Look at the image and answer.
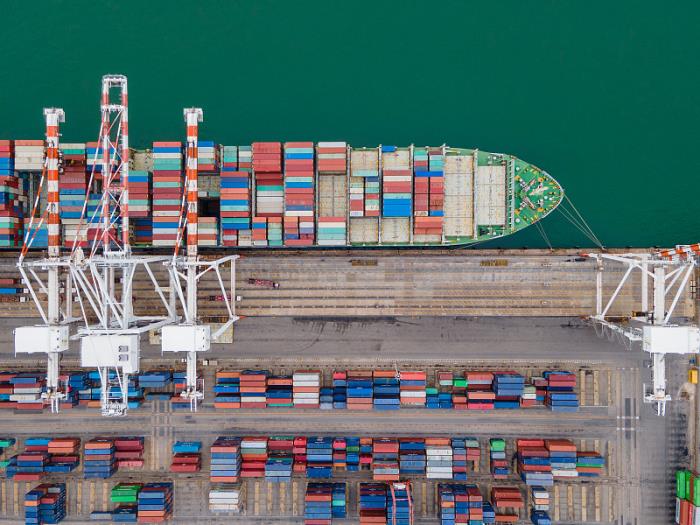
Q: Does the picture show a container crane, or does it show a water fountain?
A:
container crane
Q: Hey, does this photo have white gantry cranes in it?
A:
Yes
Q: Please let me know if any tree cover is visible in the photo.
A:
No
